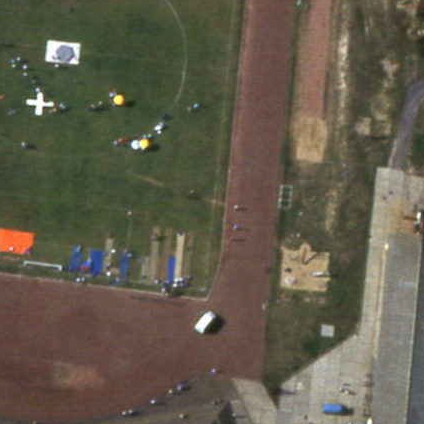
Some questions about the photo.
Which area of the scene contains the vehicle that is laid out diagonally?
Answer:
bottom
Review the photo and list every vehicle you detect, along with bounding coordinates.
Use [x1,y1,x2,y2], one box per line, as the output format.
[194,314,216,338]
[321,403,344,417]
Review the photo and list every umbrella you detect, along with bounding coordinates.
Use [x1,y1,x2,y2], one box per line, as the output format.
[112,96,125,106]
[130,141,141,151]
[140,139,151,150]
